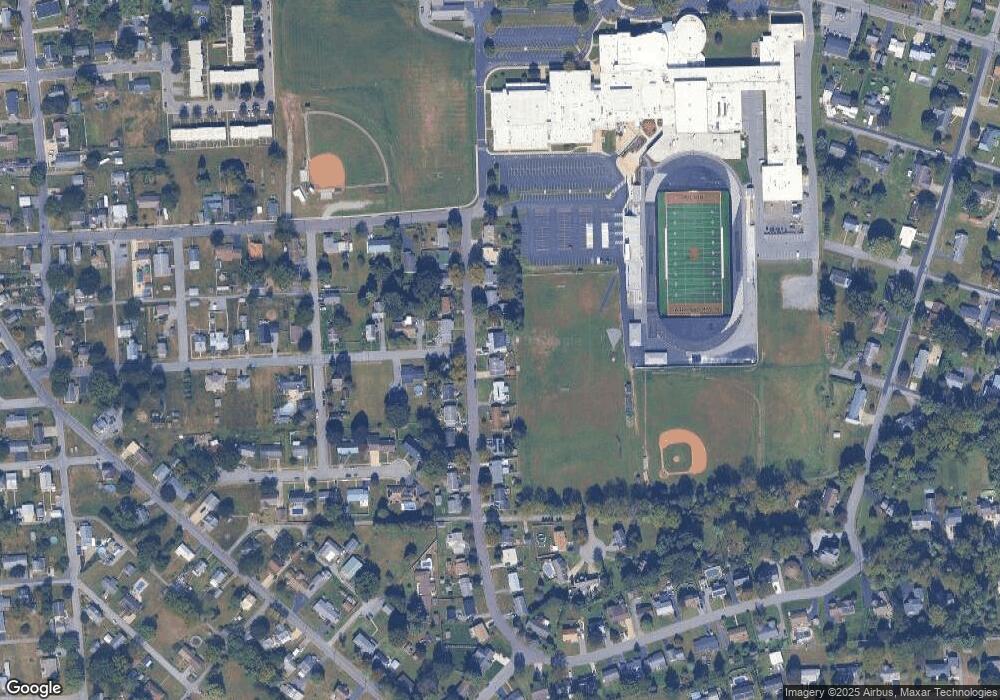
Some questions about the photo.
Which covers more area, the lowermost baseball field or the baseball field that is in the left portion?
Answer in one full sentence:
The larger object is the baseball field that is in the left portion, with the lowermost baseball field being the smaller of the pair.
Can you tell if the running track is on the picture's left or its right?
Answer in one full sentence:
The running track is on the right side of the image.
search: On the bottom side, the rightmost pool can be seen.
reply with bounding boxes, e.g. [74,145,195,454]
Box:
[796,627,814,641]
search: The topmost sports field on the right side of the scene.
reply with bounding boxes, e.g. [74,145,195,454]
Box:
[657,192,731,316]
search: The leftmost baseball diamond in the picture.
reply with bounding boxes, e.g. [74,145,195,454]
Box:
[305,110,389,191]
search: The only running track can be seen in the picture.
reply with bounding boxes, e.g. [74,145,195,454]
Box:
[646,156,756,359]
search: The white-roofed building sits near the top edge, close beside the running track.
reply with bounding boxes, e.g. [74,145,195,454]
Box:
[491,14,805,200]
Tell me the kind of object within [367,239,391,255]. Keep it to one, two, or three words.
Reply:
house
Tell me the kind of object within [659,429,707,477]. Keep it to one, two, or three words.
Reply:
baseball field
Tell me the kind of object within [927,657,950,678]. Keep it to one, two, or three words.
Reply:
house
